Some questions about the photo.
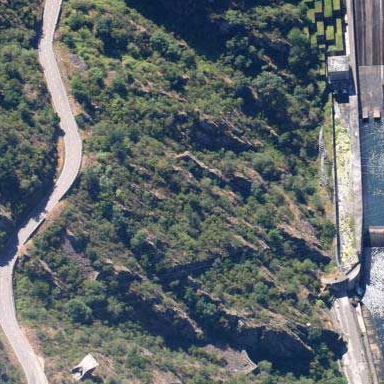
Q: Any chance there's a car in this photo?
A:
No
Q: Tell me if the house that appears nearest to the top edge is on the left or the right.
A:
right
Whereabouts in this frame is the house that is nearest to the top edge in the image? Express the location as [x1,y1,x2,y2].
[328,56,350,85]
